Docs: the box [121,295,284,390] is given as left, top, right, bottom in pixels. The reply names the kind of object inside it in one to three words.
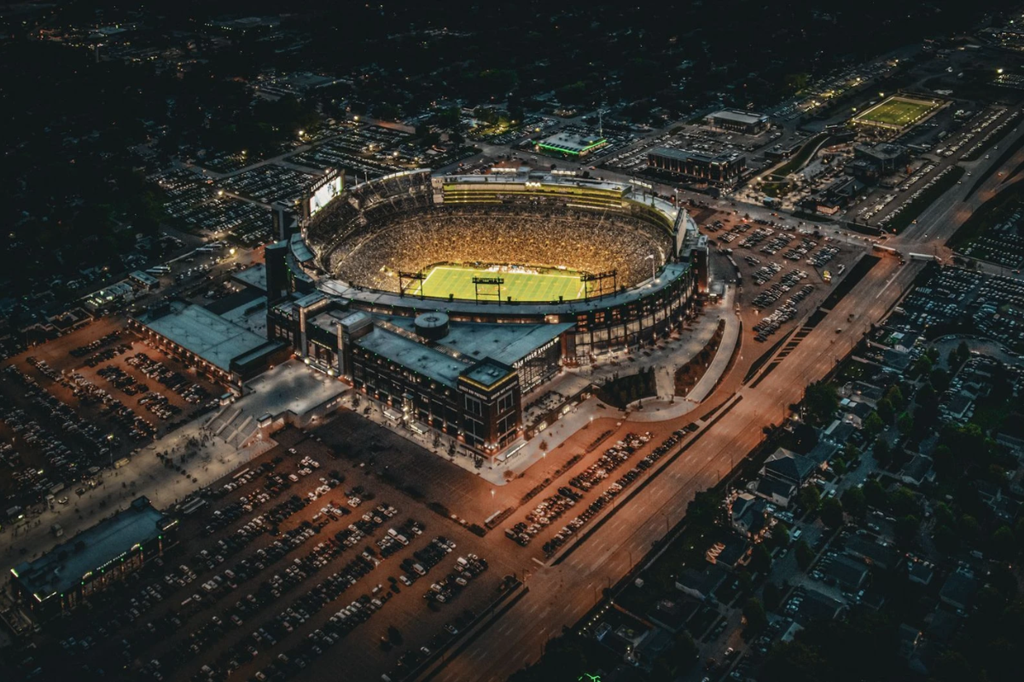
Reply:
building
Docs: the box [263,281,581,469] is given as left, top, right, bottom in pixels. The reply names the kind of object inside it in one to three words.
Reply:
building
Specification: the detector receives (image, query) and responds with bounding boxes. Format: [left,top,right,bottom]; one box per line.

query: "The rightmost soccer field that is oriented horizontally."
[846,93,951,130]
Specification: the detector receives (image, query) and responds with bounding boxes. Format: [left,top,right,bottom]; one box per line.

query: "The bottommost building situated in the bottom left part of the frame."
[17,498,177,616]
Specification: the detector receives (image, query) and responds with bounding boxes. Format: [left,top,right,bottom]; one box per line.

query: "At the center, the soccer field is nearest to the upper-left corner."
[409,266,592,302]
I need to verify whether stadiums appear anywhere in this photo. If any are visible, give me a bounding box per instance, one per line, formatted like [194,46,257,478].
[288,161,703,358]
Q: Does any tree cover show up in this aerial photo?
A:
Yes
